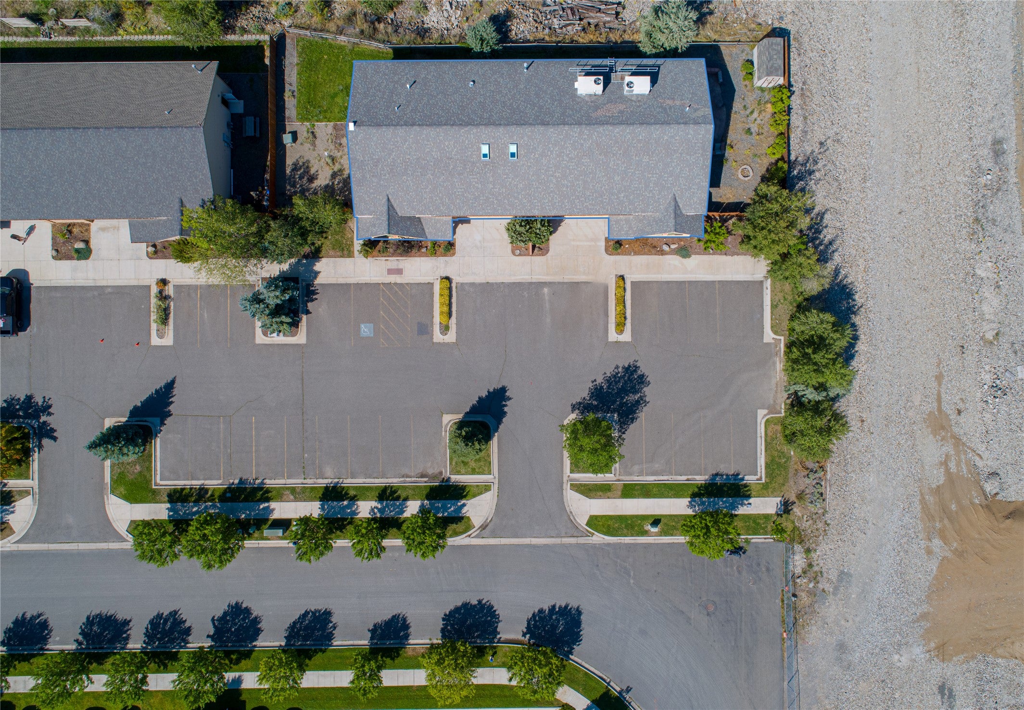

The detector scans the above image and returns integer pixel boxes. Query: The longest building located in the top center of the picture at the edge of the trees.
[346,51,714,241]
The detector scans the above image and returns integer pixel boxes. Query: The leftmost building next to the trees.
[0,60,246,241]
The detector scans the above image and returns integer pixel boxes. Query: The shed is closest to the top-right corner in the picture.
[754,29,791,85]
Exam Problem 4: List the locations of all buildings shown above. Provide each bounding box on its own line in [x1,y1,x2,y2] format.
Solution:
[346,51,714,241]
[0,60,246,241]
[754,29,791,85]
